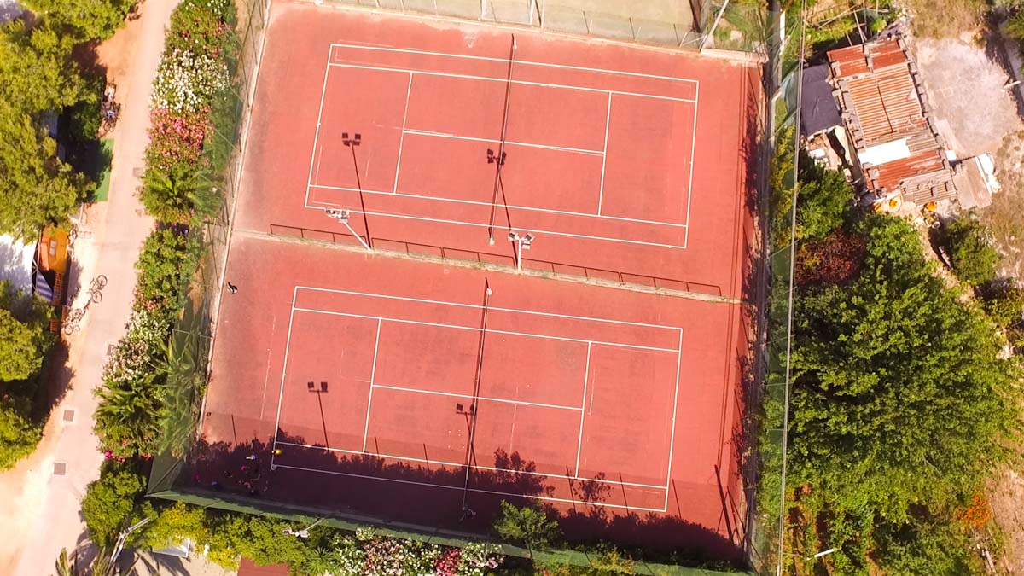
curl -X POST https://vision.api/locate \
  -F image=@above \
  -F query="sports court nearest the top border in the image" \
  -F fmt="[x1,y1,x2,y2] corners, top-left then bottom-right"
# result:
[336,0,693,46]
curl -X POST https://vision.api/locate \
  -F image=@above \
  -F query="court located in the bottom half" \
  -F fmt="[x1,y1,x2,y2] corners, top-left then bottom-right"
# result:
[174,238,751,566]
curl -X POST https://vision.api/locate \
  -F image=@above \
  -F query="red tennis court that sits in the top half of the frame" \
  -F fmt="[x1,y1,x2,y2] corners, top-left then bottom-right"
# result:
[231,0,764,295]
